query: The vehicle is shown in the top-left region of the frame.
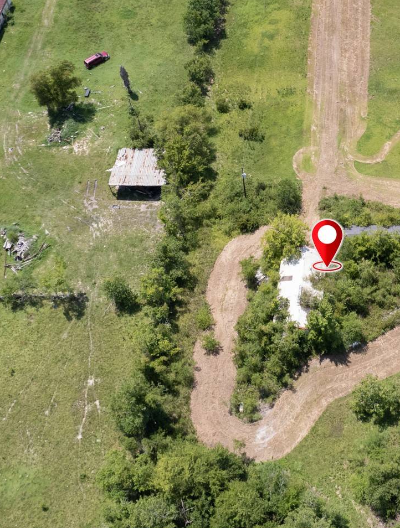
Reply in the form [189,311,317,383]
[83,53,110,70]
